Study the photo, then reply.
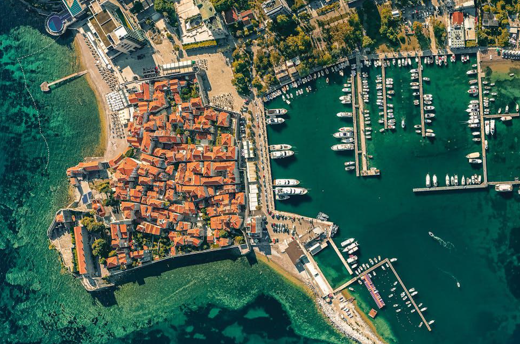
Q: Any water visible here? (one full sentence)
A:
Yes, water can be seen from above here.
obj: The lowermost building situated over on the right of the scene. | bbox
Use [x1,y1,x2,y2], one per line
[305,261,333,296]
